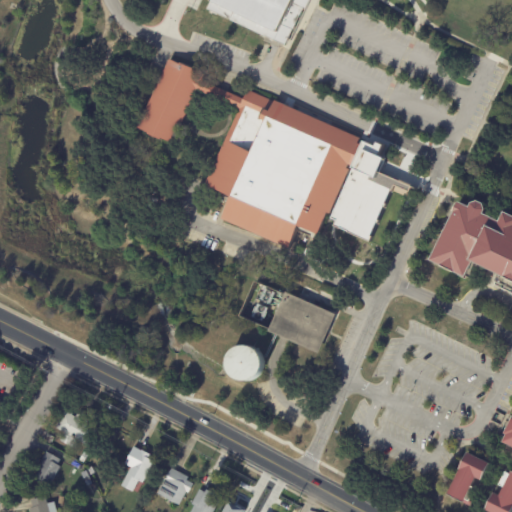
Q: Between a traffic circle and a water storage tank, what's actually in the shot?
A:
water storage tank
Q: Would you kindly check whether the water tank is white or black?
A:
white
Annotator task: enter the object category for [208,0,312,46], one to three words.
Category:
building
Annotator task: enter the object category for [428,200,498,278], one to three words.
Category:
building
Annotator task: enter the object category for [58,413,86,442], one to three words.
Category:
house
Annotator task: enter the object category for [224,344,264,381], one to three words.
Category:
water tank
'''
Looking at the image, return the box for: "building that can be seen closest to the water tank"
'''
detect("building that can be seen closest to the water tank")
[268,292,338,352]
